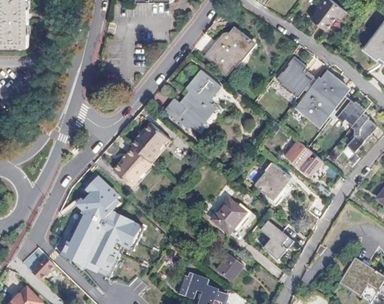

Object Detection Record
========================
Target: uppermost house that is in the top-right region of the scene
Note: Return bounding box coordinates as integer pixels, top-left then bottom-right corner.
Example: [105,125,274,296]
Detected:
[311,0,348,33]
